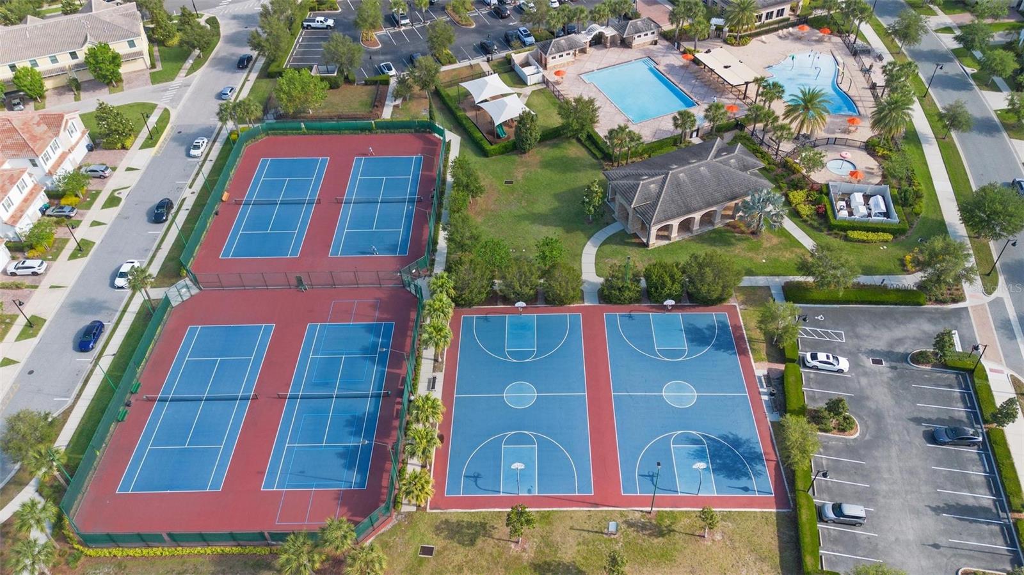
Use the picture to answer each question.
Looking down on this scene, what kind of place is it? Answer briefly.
sports ground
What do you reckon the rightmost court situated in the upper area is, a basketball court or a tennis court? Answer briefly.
tennis court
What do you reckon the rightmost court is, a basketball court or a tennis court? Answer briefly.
basketball court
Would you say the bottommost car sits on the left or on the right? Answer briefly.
right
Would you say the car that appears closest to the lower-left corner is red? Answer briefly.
No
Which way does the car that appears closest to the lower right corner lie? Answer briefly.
from side to side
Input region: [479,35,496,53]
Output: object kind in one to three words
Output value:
car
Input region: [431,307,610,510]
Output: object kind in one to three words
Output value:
basketball court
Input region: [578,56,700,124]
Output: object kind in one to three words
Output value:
swimming pool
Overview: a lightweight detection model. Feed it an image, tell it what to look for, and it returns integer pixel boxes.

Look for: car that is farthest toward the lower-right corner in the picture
[932,423,987,447]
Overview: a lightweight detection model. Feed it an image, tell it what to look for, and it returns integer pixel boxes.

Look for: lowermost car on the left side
[75,318,104,352]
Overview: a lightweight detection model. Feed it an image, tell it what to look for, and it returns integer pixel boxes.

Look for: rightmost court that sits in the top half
[304,136,441,287]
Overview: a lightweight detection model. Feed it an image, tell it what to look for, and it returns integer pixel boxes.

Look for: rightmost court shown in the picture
[592,304,791,511]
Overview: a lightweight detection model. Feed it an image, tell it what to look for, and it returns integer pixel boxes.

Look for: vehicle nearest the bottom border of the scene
[821,499,872,526]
